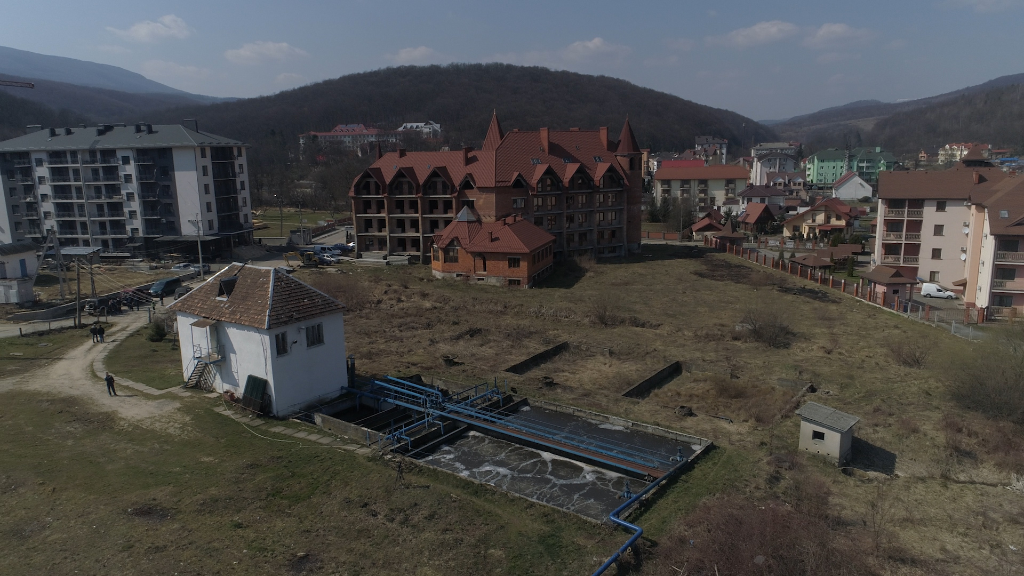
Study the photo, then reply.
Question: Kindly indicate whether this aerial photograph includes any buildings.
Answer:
Yes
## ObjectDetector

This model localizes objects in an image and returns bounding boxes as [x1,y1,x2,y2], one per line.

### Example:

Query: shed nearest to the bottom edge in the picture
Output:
[790,398,870,466]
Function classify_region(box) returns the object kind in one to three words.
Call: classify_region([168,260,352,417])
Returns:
building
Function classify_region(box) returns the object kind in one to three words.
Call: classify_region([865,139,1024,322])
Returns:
house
